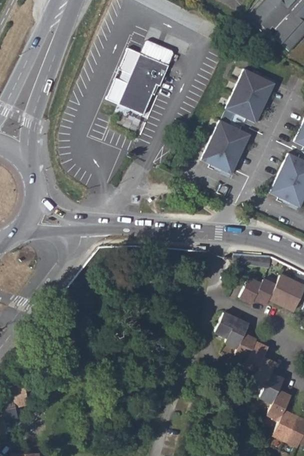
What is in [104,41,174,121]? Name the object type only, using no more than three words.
building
